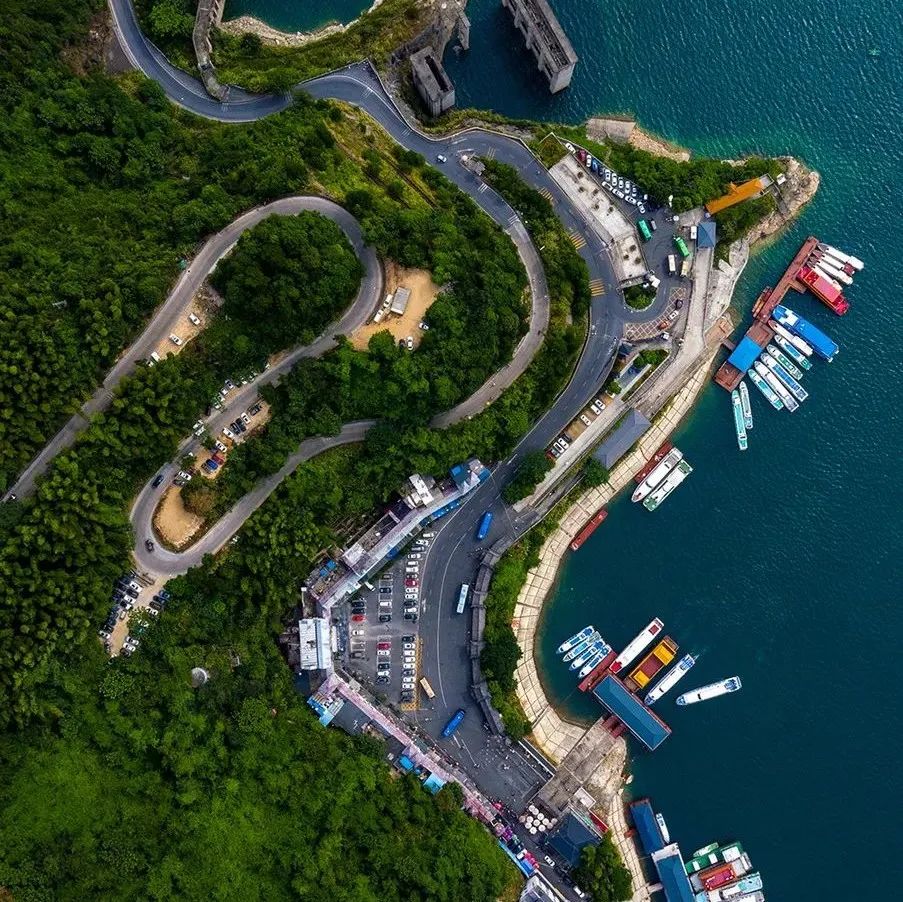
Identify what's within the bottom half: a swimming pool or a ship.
ship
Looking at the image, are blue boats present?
Yes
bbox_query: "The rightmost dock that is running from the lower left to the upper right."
[757,236,820,324]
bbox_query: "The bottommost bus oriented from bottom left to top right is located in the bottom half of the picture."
[443,709,466,736]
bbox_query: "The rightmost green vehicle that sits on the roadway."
[673,238,689,257]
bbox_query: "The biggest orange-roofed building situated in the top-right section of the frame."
[703,179,764,216]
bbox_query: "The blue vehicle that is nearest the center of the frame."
[477,512,493,539]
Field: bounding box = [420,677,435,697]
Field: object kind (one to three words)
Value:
vehicle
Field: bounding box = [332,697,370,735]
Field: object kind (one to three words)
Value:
house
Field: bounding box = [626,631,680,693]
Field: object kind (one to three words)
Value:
ship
